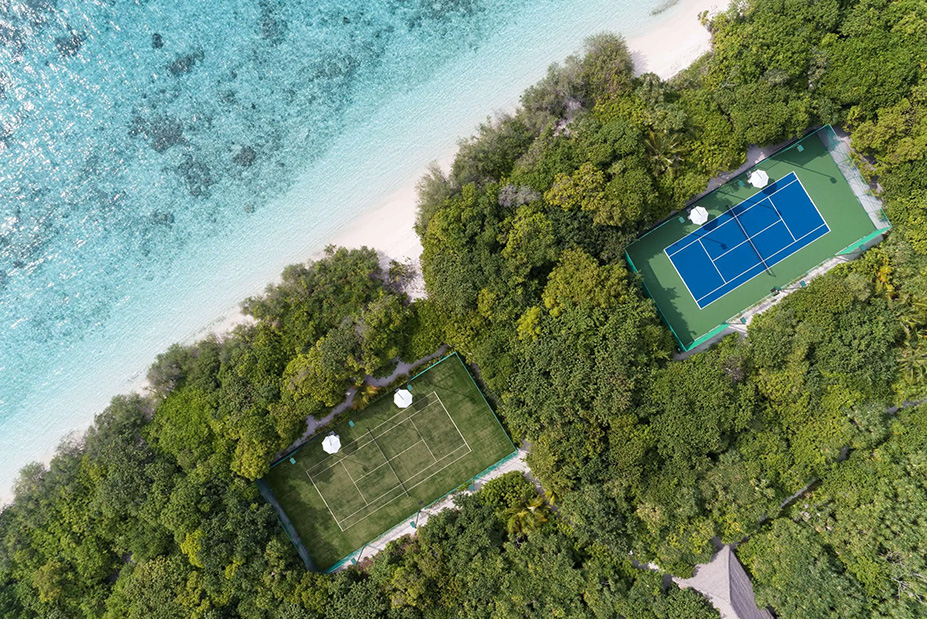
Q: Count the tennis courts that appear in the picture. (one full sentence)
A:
Altogether the scene contains 2 tennis courts.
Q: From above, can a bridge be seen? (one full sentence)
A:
No, there appears to be no bridge in this shot.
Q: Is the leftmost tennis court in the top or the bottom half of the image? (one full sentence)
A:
Seen from above, the leftmost tennis court lies in the bottom half of the view.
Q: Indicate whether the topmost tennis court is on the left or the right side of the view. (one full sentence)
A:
The topmost tennis court appears in the right half of the scene.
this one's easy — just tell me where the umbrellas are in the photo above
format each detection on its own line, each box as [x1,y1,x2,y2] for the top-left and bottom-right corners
[393,385,414,407]
[322,426,341,452]
[682,205,707,226]
[740,169,767,190]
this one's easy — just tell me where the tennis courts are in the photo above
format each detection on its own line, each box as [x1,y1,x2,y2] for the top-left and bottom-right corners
[263,353,512,571]
[625,133,876,347]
